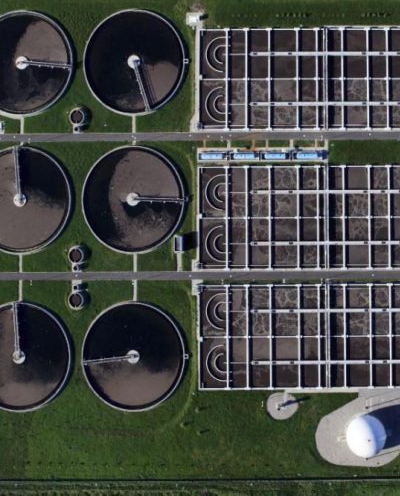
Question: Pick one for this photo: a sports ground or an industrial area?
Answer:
industrial area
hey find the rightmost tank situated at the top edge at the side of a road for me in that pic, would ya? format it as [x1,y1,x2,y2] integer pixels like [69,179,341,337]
[81,9,187,115]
